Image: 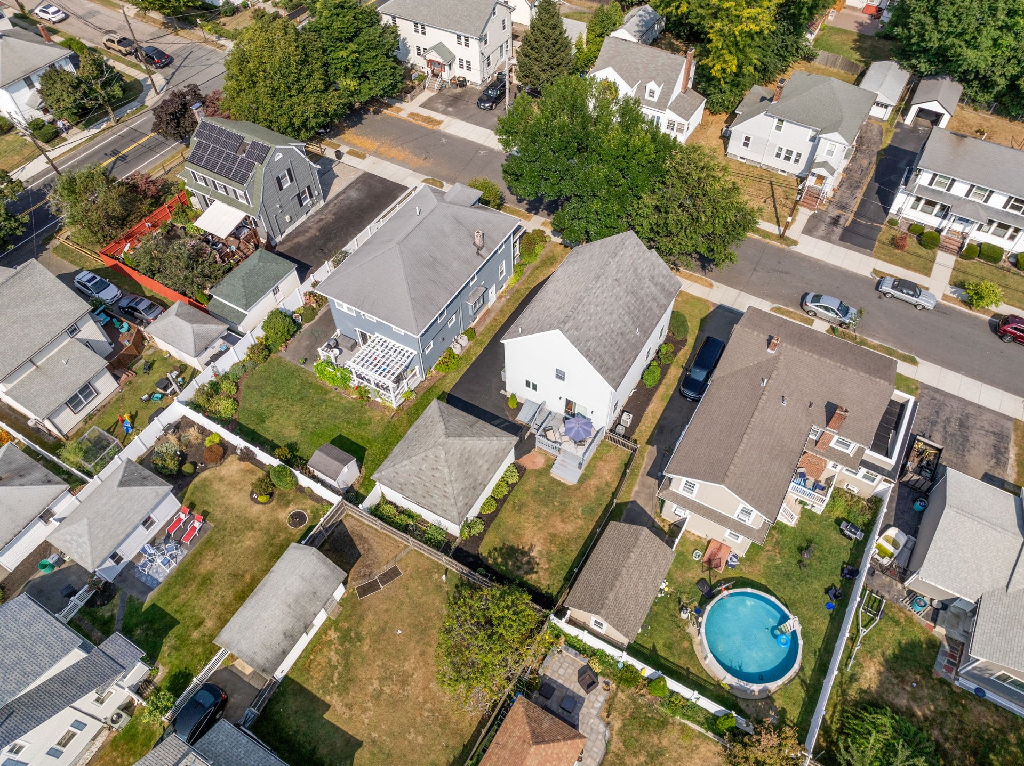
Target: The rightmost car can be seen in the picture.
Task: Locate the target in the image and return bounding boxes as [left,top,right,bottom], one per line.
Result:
[992,313,1024,346]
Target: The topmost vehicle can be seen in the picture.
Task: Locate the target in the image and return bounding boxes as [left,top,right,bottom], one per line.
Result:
[35,1,70,24]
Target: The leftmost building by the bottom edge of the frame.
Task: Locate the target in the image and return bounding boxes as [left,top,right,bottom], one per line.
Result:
[0,575,153,766]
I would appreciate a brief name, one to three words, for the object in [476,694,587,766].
house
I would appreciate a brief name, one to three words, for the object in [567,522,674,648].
building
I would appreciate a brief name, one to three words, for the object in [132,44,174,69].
car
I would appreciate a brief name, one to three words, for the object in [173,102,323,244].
house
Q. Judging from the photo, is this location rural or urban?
urban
